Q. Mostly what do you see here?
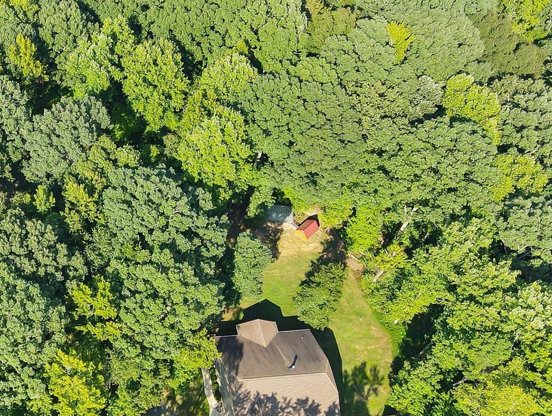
trees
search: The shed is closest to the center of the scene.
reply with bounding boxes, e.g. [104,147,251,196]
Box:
[264,206,295,228]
